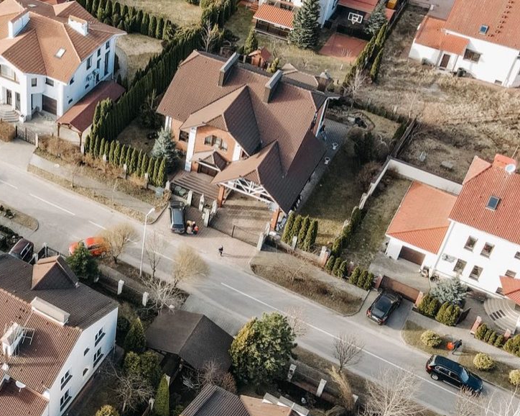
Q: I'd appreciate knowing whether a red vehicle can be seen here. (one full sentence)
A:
Yes, there's a red vehicle here.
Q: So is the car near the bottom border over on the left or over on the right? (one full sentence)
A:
The car near the bottom border sits on the right side.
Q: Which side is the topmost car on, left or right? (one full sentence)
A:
It is on the left.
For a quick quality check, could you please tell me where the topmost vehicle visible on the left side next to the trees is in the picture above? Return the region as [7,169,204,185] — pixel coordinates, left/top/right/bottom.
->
[164,202,188,236]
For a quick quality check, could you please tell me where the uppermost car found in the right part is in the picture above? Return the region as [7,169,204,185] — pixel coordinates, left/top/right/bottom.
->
[364,289,403,326]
